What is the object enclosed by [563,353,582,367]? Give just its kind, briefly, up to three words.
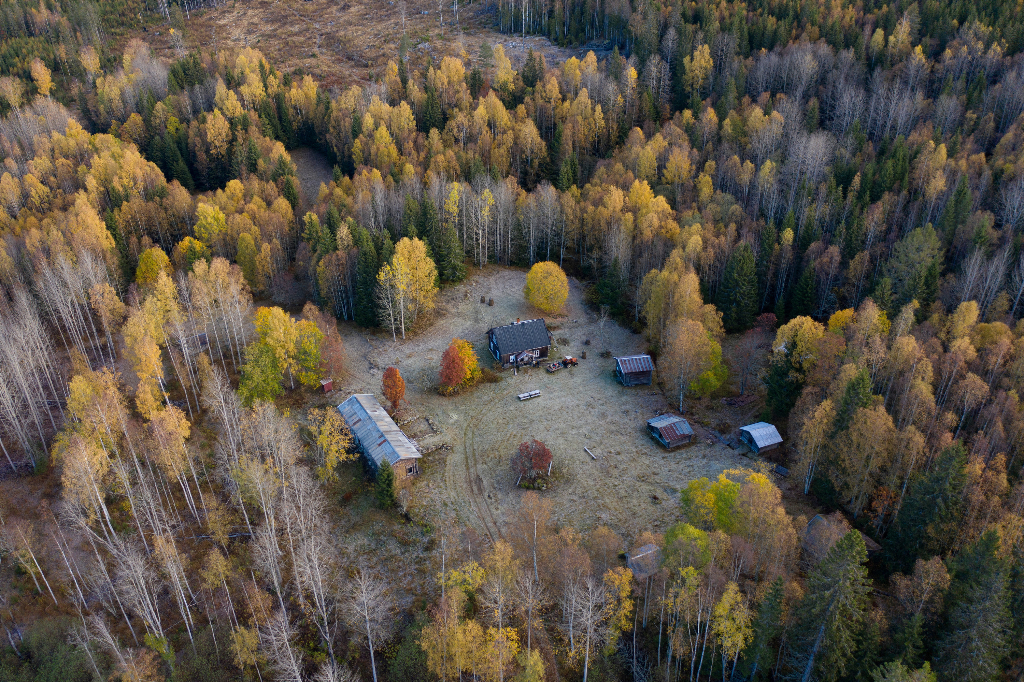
work vehicle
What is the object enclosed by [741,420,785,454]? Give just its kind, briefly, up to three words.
shed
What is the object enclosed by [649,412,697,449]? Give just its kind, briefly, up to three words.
shed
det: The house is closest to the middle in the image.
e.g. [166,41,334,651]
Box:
[486,316,551,369]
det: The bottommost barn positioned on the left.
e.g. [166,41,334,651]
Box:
[338,393,419,480]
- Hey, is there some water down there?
No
